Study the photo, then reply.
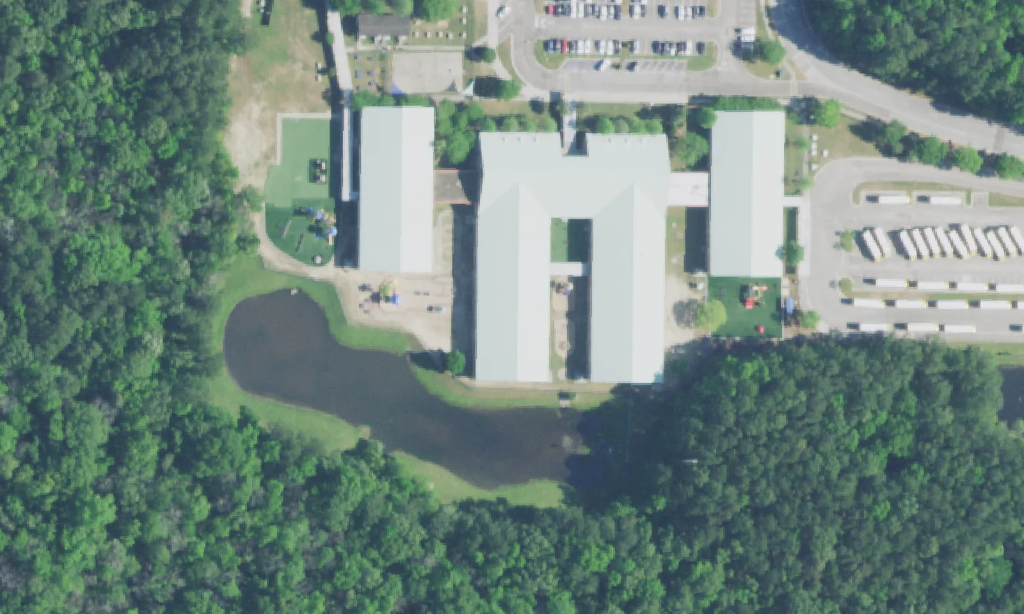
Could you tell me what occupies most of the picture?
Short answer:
trees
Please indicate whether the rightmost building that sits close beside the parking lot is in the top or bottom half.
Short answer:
top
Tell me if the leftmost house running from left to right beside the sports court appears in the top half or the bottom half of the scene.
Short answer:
top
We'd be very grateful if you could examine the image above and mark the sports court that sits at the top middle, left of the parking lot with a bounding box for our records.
[392,52,463,93]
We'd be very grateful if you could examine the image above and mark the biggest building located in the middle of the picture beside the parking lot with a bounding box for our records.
[475,132,670,383]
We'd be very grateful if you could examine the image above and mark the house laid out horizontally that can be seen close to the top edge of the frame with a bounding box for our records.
[357,15,410,40]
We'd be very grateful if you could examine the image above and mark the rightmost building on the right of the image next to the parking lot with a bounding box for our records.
[707,111,785,276]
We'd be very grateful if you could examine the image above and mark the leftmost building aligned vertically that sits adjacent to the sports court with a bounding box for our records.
[357,107,435,272]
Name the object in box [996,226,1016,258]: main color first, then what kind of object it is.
white bus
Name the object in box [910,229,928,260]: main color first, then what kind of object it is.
white vehicle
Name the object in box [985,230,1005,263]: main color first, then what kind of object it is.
white bus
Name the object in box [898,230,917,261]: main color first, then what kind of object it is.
white vehicle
